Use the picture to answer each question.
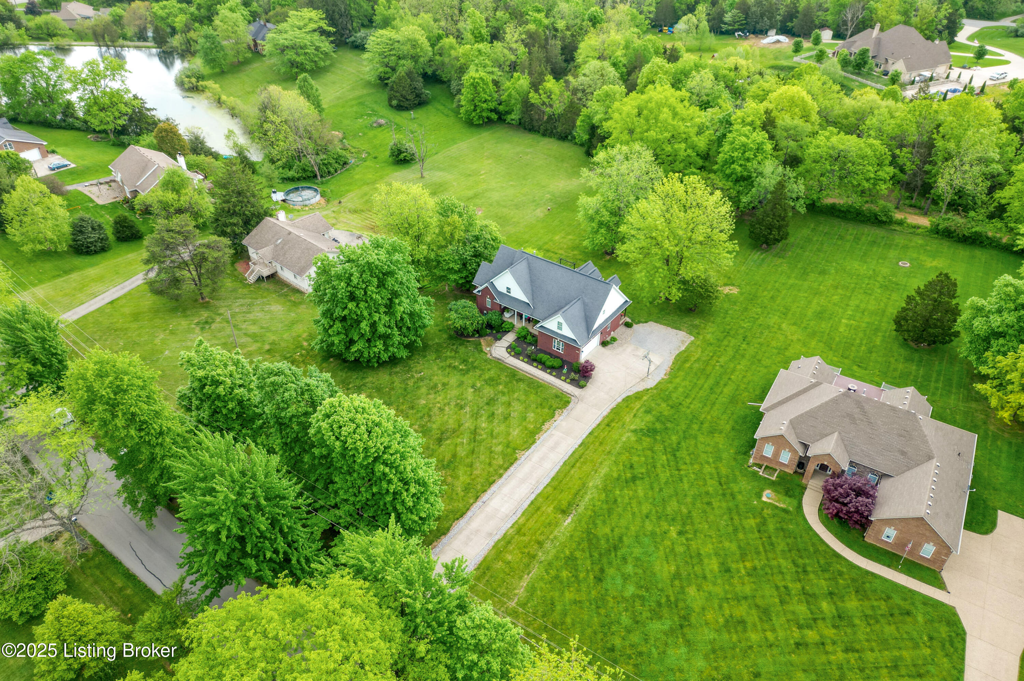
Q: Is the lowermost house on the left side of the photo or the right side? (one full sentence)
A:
The lowermost house appears in the right half of the scene.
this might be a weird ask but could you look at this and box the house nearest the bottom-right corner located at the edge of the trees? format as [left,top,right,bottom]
[753,355,983,572]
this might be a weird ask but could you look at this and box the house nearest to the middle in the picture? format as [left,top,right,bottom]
[472,246,634,362]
